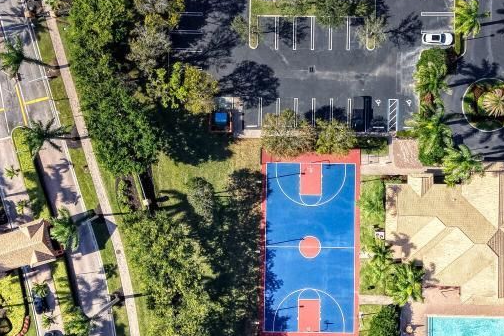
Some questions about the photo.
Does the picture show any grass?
Yes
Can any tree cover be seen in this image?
Yes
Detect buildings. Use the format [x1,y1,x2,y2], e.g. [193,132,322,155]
[0,219,61,275]
[386,162,504,304]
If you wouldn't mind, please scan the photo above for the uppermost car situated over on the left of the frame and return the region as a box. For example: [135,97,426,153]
[32,294,47,318]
